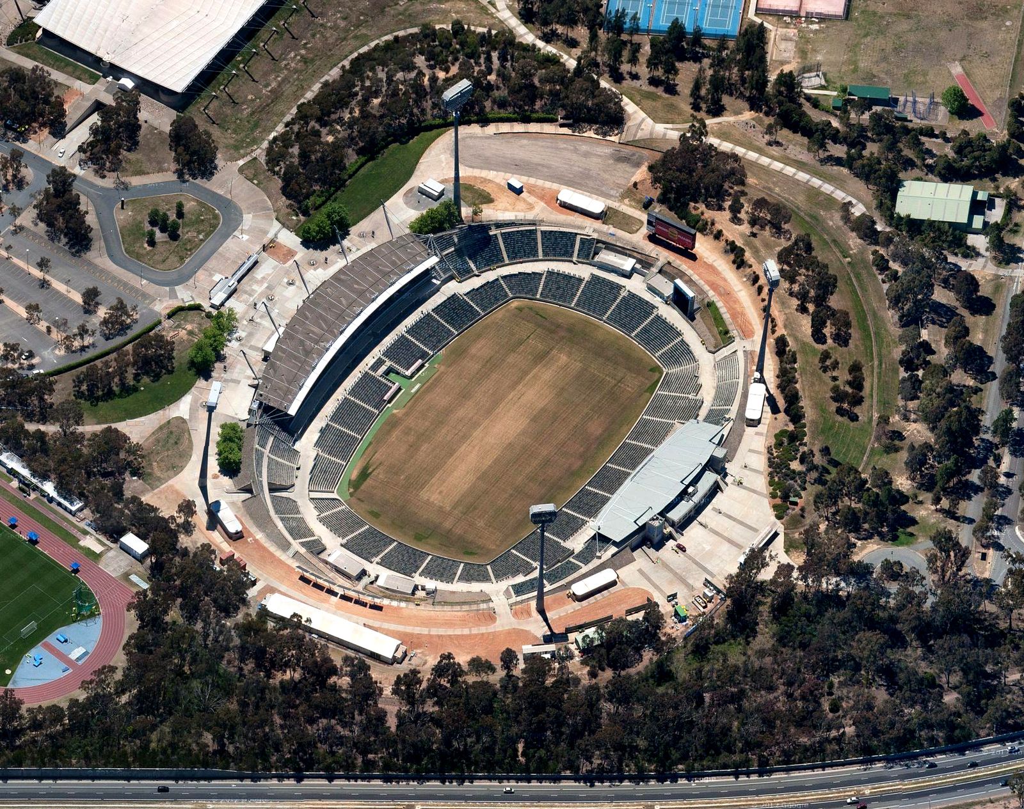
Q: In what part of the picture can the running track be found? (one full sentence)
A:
The running track is located in the bottom left region of the scene.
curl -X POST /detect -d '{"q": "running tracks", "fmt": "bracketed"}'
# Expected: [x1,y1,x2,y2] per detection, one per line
[0,495,132,707]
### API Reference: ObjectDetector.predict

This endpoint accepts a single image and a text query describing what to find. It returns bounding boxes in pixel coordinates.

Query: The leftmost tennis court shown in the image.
[604,0,744,39]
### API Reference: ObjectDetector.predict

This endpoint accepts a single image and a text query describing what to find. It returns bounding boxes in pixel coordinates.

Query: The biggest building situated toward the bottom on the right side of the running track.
[267,593,402,665]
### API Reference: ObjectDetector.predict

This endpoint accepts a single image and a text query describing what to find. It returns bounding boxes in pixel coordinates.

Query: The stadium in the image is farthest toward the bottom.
[225,202,751,611]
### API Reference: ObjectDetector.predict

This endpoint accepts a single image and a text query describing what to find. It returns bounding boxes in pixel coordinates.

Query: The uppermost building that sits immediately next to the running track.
[0,453,84,516]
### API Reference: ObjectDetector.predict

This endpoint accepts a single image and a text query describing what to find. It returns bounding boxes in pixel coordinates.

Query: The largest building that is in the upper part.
[895,180,973,231]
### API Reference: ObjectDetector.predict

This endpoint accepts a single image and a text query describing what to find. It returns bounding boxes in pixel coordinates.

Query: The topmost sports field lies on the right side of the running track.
[337,299,665,563]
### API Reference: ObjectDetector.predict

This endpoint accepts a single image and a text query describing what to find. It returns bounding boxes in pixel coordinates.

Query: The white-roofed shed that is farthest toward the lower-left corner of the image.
[119,532,150,562]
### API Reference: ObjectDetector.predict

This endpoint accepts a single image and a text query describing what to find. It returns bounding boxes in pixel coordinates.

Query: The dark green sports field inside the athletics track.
[0,521,102,688]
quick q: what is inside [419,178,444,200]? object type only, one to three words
shed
